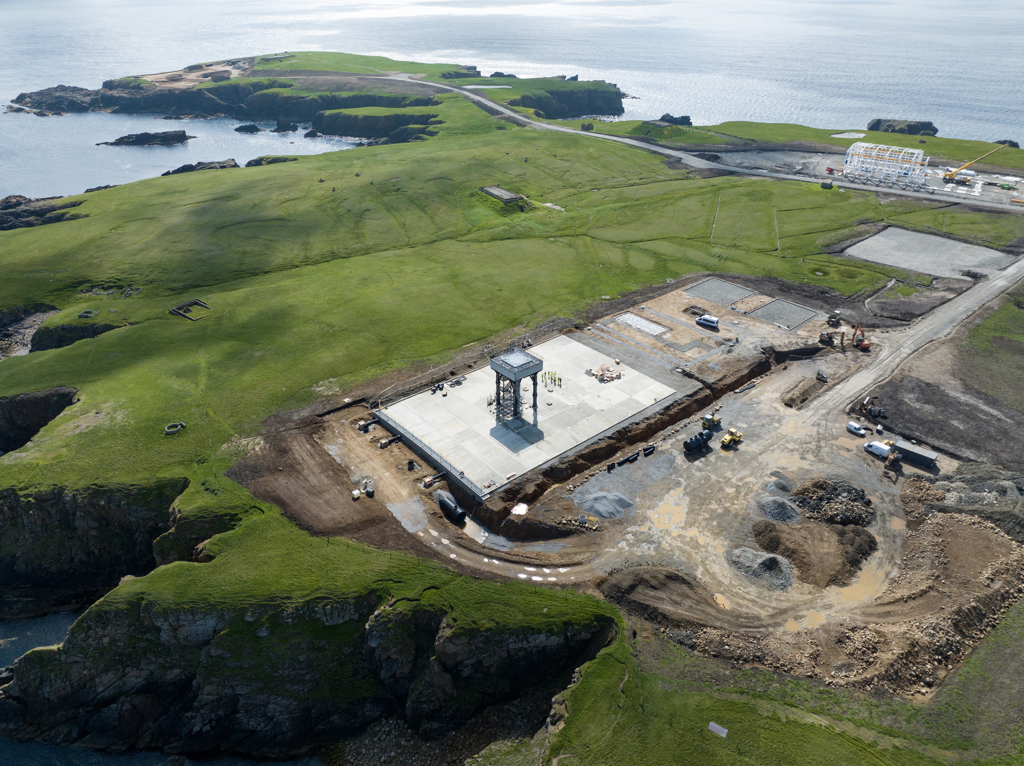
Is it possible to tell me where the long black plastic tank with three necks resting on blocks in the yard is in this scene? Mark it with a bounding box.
[681,430,716,460]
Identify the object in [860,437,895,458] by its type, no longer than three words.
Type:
vehicle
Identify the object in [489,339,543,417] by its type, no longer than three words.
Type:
water tower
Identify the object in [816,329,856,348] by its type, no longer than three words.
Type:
work vehicle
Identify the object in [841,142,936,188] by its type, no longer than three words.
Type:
building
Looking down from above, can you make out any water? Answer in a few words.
Yes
